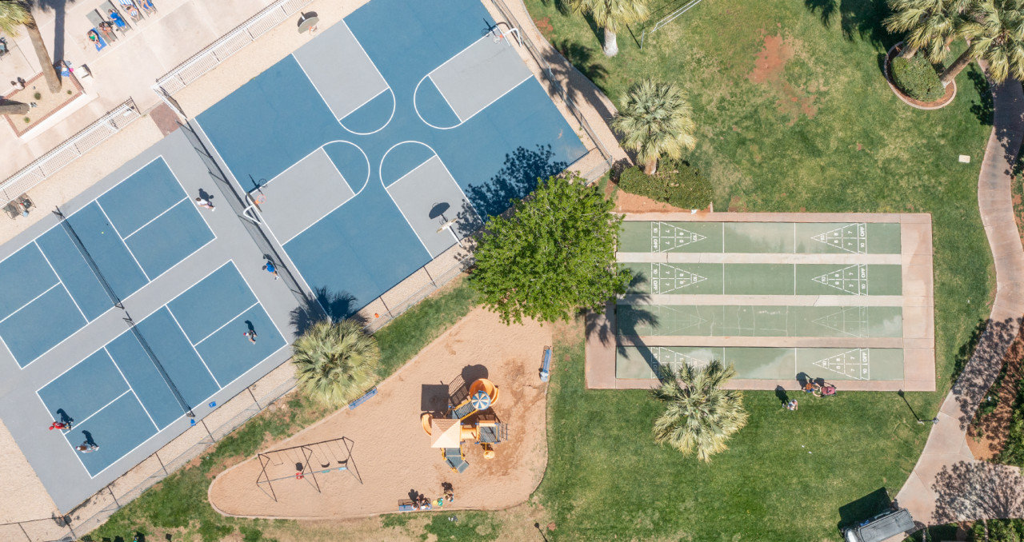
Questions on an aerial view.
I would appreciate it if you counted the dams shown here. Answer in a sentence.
No dams are visible.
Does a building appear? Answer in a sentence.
No, no building can be seen from above.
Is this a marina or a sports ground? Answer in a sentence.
This looks like a sports ground.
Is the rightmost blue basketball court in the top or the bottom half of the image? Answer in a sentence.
The top half of the photo is where the rightmost blue basketball court is.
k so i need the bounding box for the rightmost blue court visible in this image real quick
[193,0,590,322]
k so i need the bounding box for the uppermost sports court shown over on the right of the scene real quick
[616,220,901,253]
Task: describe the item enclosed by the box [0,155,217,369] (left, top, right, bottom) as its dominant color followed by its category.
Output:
blue sports court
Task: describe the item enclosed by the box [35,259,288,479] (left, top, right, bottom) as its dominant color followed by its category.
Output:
blue sports court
